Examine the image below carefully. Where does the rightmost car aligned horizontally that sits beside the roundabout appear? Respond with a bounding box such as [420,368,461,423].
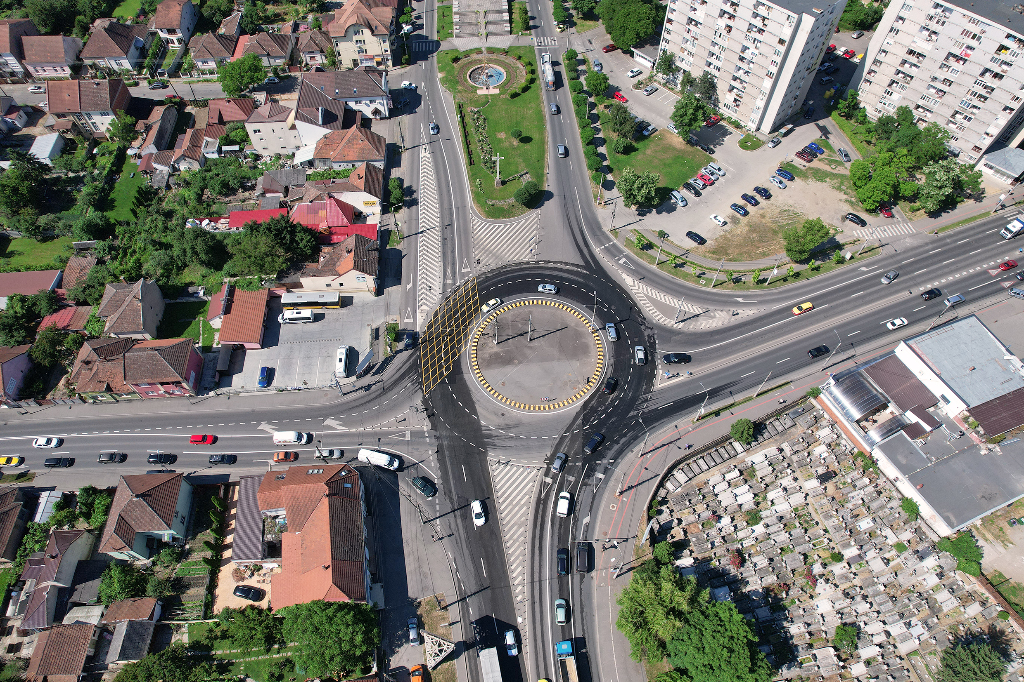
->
[664,352,690,365]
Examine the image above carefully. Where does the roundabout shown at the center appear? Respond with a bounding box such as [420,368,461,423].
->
[418,256,664,462]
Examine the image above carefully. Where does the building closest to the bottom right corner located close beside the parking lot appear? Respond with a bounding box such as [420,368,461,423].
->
[819,313,1024,542]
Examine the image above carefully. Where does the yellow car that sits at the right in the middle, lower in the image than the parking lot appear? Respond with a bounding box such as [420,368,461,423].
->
[792,301,814,315]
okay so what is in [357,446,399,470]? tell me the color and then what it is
white vehicle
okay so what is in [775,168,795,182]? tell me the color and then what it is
blue car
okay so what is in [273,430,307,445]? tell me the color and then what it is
white vehicle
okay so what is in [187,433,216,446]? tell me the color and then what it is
red vehicle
